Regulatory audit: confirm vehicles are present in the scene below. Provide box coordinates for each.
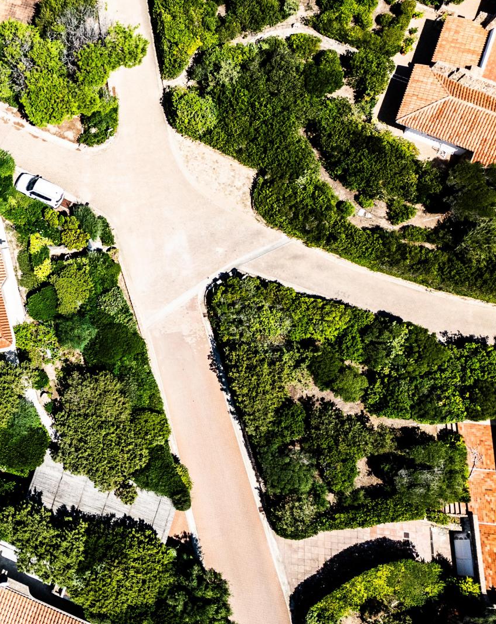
[452,531,485,575]
[14,171,67,209]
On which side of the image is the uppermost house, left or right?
right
